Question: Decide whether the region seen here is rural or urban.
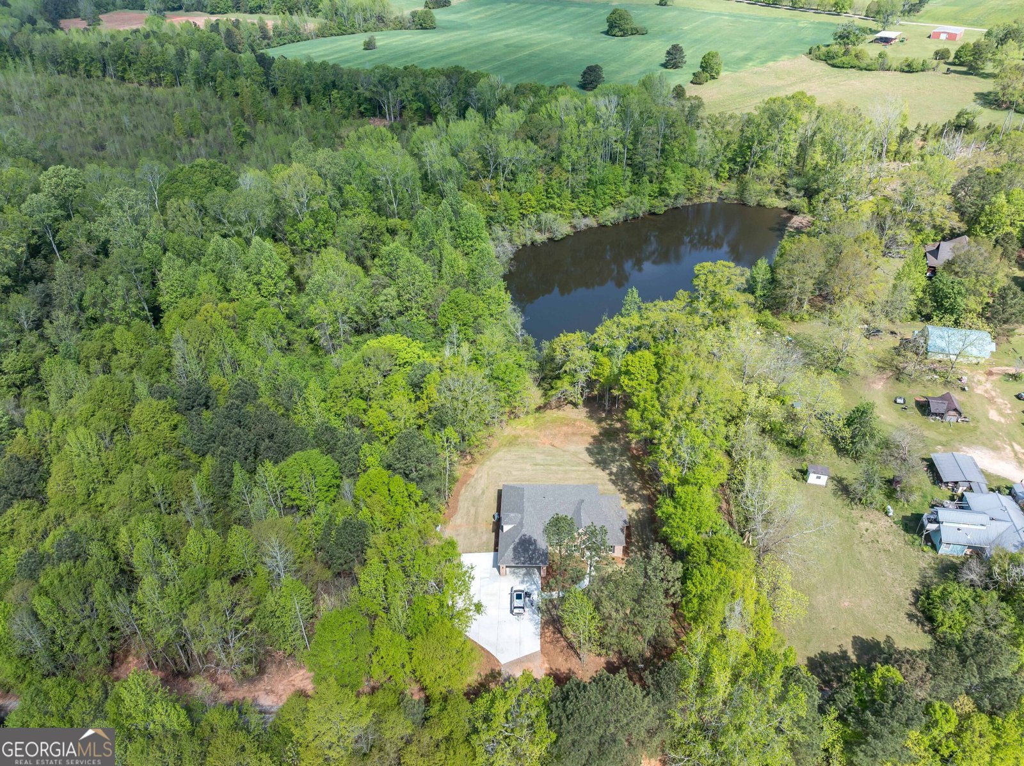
rural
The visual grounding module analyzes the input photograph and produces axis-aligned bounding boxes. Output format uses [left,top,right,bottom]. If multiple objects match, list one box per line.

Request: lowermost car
[511,583,531,613]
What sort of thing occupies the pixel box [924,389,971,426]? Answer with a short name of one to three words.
shed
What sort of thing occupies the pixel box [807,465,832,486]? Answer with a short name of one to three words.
shed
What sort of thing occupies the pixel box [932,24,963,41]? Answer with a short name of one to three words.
barn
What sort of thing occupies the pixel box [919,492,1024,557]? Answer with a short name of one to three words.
house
